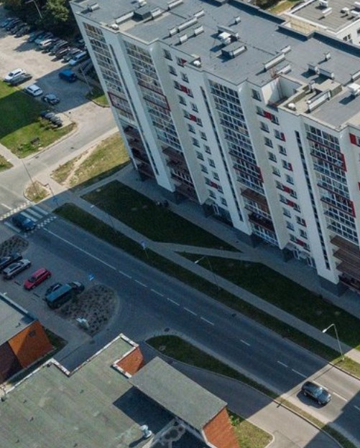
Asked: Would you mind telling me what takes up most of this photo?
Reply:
buildings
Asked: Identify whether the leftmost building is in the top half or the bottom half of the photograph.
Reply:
bottom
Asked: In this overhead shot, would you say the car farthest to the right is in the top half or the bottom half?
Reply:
bottom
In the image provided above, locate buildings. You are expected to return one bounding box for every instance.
[0,335,243,448]
[69,0,360,294]
[0,293,51,377]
